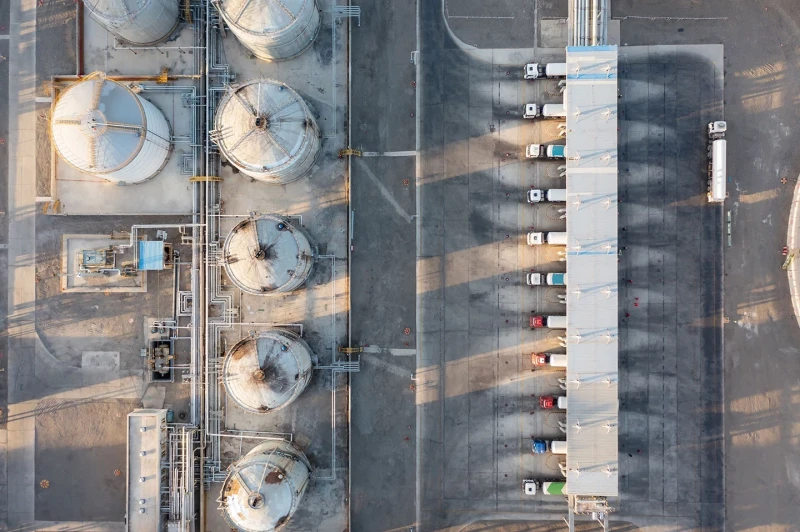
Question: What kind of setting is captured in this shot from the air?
industrial area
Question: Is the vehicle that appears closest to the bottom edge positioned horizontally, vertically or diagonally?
horizontally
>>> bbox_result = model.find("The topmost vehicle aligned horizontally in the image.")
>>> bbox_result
[522,62,565,81]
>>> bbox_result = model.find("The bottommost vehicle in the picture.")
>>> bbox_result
[521,477,565,497]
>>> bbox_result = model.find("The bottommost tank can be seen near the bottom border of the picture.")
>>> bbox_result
[217,437,309,532]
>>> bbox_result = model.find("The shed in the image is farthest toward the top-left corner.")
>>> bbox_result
[140,241,177,270]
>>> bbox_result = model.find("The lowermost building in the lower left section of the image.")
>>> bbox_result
[128,408,174,532]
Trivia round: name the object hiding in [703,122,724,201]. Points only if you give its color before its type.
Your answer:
white truck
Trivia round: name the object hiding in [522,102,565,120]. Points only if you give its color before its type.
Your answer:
white vehicle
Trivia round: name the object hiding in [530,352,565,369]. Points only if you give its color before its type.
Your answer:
white vehicle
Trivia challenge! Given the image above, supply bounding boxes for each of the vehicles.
[522,102,565,120]
[530,437,565,455]
[530,352,565,369]
[538,394,565,411]
[703,122,724,201]
[524,230,565,247]
[522,62,565,81]
[523,142,565,159]
[524,271,565,287]
[521,477,565,497]
[527,313,565,330]
[525,187,565,204]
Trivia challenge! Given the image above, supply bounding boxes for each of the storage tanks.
[217,437,309,532]
[48,73,174,184]
[220,0,321,58]
[210,77,320,184]
[219,327,312,414]
[218,214,314,295]
[79,0,184,47]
